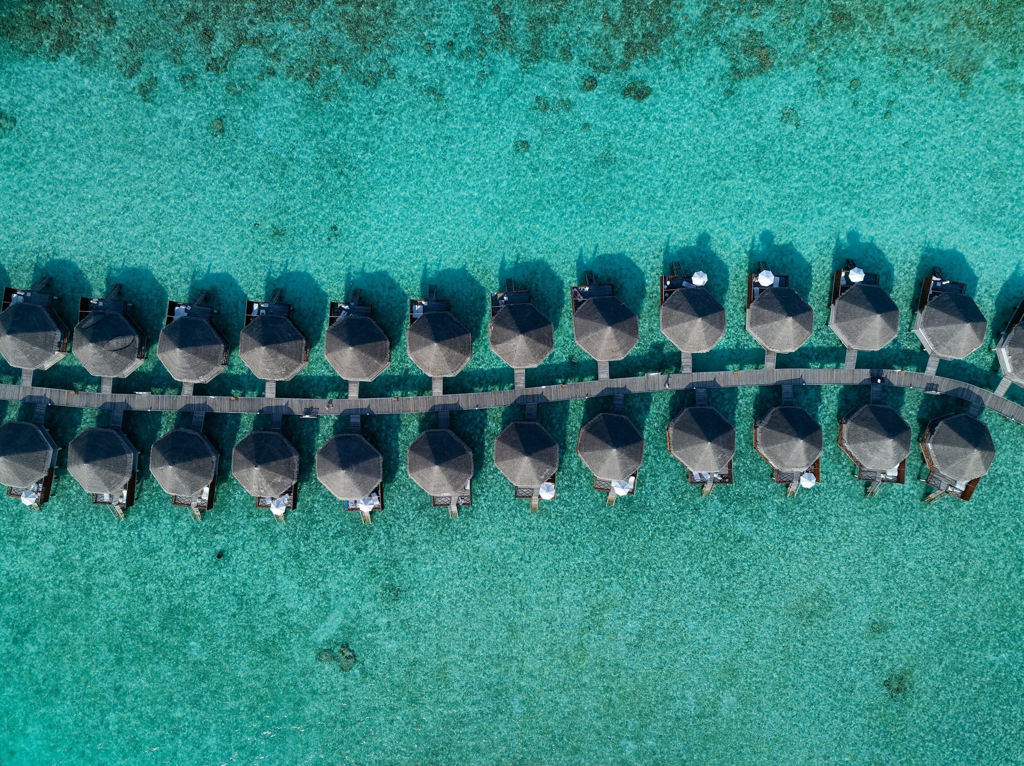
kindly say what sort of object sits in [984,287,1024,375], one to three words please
house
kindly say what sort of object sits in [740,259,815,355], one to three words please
house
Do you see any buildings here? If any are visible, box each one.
[71,282,157,379]
[406,428,476,520]
[238,285,315,383]
[574,411,647,505]
[656,260,727,355]
[315,432,385,524]
[0,273,73,372]
[984,287,1024,375]
[492,420,561,512]
[323,286,397,383]
[486,275,556,371]
[829,402,912,495]
[740,259,815,355]
[746,404,823,497]
[67,425,148,519]
[911,410,999,506]
[157,287,239,385]
[661,405,736,498]
[405,283,475,379]
[903,263,988,362]
[148,426,227,521]
[571,269,640,364]
[232,428,306,521]
[0,418,69,514]
[821,256,901,352]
